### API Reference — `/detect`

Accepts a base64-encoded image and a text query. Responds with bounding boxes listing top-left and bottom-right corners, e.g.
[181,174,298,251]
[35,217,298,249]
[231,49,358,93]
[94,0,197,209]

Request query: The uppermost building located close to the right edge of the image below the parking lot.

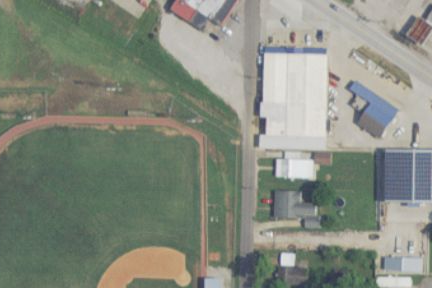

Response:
[384,257,422,271]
